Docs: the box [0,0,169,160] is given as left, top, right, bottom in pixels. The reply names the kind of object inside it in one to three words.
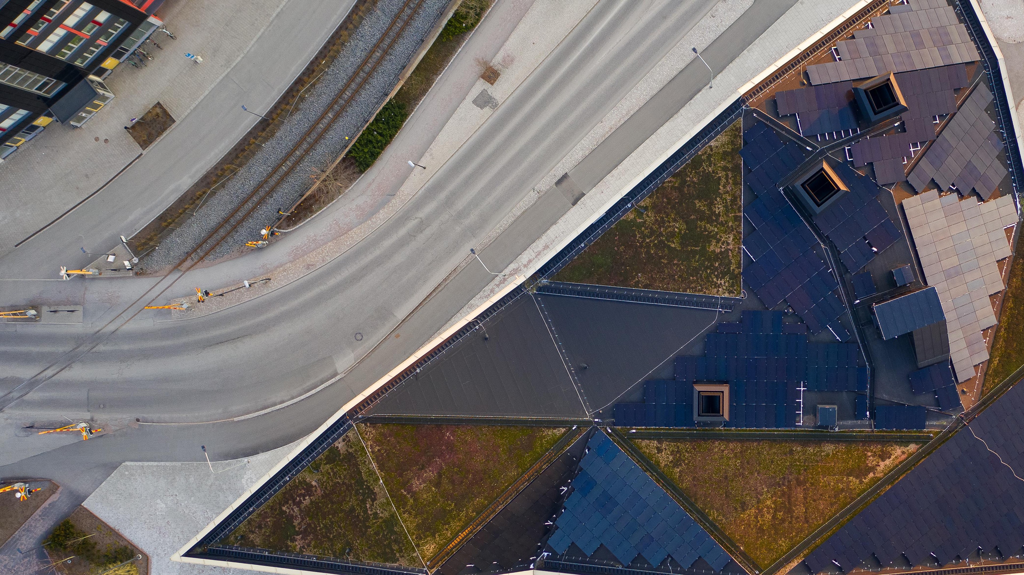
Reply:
building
